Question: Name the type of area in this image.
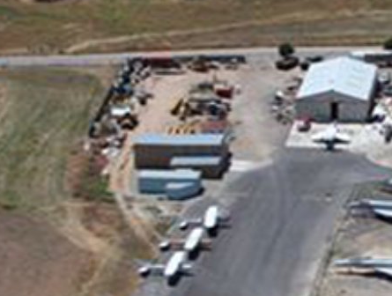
airport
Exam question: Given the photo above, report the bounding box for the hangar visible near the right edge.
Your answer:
[293,54,380,121]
